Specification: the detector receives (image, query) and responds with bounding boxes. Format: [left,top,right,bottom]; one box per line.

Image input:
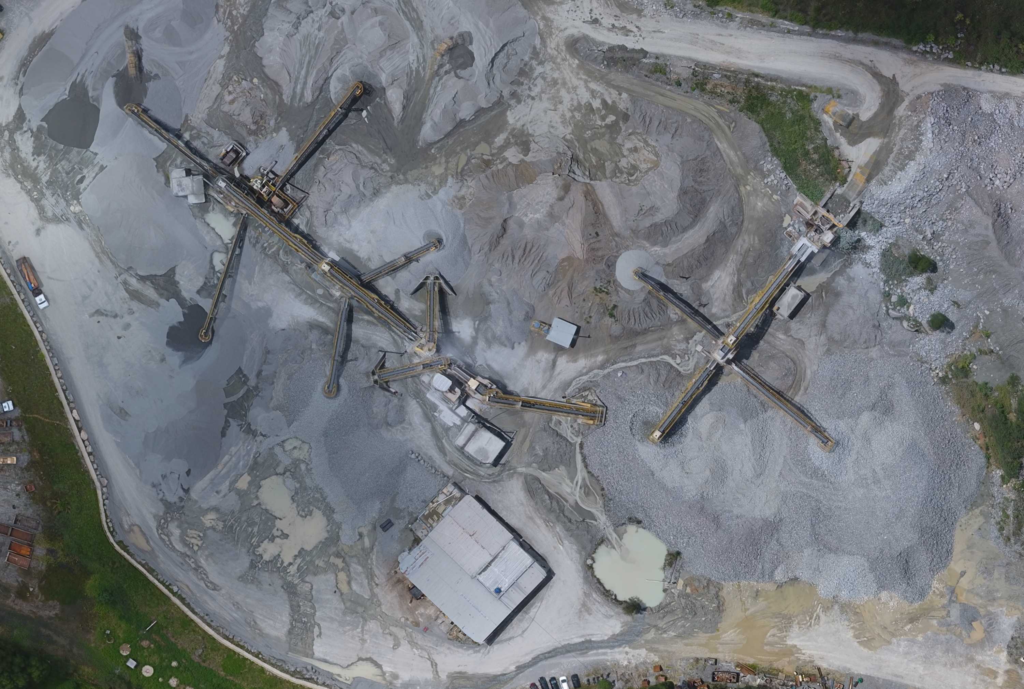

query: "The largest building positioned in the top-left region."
[171,169,205,203]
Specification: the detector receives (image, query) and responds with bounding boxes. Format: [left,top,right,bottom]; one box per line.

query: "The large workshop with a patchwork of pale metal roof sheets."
[398,495,547,644]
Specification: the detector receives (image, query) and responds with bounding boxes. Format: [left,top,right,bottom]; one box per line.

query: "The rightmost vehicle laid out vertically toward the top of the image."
[126,41,138,72]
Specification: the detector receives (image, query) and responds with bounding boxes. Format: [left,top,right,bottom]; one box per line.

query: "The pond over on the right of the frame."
[593,524,667,609]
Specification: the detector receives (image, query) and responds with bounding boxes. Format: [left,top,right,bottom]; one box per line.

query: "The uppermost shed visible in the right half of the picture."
[772,284,804,320]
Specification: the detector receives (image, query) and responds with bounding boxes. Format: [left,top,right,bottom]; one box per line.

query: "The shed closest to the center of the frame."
[546,318,577,348]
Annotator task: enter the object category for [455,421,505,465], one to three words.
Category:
building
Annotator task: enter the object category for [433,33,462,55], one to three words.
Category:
work vehicle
